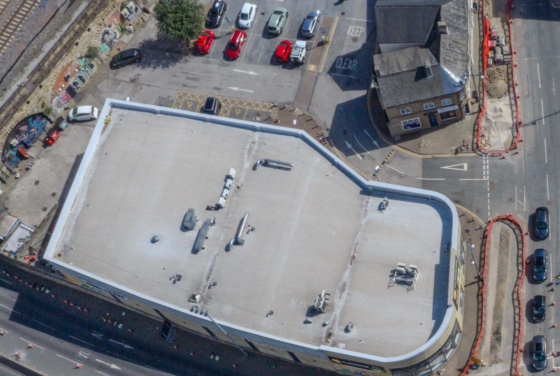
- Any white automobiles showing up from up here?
Yes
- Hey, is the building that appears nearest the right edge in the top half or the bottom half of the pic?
top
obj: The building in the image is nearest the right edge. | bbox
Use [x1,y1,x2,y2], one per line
[371,0,476,135]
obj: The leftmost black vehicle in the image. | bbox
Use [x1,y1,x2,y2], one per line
[109,47,143,70]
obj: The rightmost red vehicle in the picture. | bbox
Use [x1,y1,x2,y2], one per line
[274,37,293,63]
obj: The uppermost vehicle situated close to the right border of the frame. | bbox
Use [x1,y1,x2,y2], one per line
[534,206,549,239]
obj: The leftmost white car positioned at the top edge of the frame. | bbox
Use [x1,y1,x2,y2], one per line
[238,1,257,28]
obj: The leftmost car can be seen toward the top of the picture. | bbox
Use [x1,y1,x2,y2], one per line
[68,104,100,122]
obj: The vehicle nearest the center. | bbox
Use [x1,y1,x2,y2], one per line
[203,95,221,115]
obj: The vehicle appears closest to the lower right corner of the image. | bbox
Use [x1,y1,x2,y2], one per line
[531,334,548,371]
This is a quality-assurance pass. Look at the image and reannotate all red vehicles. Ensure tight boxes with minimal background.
[196,29,216,54]
[225,28,247,60]
[274,37,293,63]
